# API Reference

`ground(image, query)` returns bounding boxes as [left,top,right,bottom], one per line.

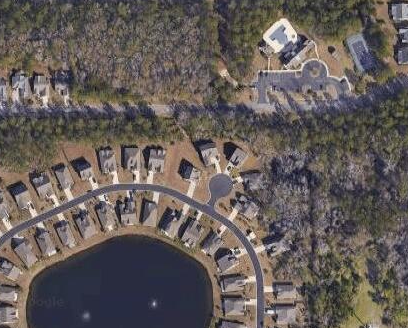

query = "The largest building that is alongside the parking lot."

[277,34,314,66]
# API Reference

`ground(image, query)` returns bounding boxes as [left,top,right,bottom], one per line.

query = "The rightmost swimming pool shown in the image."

[265,20,298,53]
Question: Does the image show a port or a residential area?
residential area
